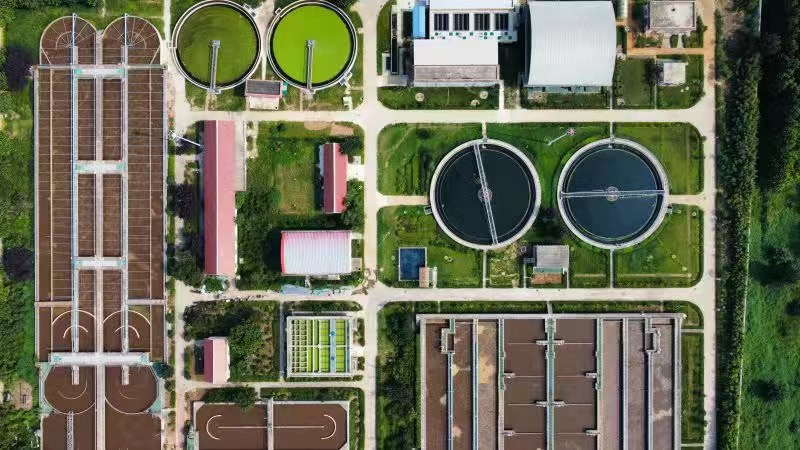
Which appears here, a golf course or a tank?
tank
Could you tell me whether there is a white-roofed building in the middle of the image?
Yes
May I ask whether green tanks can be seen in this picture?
Yes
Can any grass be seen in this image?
Yes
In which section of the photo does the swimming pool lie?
center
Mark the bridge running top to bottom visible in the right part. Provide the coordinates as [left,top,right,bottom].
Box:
[473,141,498,246]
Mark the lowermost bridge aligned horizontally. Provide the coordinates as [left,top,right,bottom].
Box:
[47,352,150,365]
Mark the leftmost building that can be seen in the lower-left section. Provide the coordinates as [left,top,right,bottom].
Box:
[204,336,231,386]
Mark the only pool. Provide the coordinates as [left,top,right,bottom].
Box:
[398,247,427,281]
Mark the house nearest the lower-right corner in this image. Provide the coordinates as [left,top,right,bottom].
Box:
[521,245,569,272]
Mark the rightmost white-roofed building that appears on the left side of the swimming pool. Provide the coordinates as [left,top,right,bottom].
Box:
[280,231,351,280]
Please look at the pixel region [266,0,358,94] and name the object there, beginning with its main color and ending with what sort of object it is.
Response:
green storage tank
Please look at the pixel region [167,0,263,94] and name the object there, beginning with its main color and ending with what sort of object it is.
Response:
green storage tank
